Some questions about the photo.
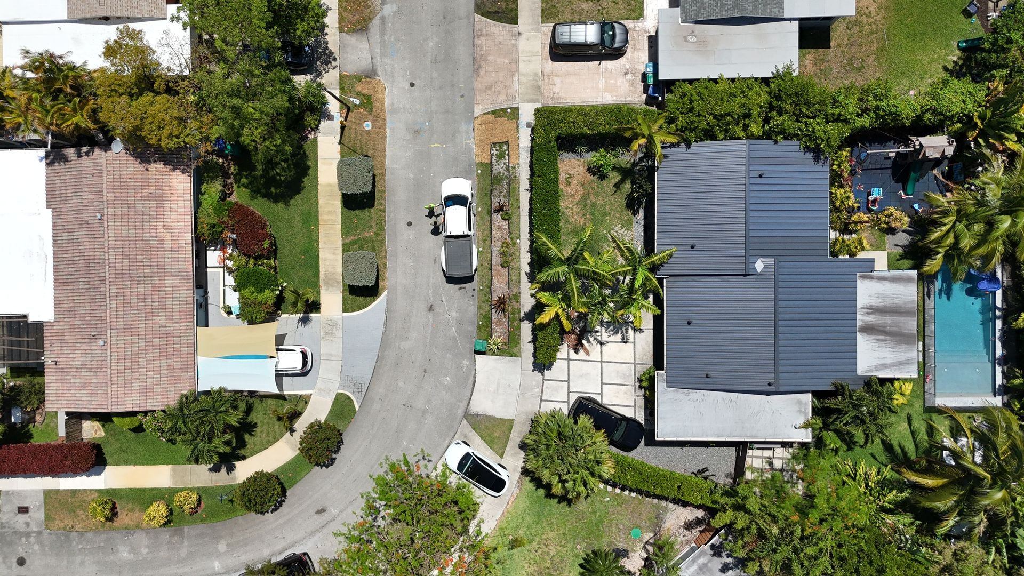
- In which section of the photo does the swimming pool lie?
right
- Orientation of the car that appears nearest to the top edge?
from left to right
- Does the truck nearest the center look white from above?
Yes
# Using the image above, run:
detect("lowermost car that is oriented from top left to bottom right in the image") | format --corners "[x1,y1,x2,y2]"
[441,439,516,500]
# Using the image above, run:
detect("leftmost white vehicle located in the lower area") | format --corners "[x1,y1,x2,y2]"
[274,345,315,375]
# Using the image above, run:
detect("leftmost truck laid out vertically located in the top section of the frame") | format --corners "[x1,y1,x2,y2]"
[437,179,480,276]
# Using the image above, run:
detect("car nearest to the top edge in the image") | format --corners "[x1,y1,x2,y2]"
[549,15,631,56]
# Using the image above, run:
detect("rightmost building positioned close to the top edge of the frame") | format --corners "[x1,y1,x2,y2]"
[657,0,855,83]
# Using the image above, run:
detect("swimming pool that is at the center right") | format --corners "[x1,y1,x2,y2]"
[926,255,1010,410]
